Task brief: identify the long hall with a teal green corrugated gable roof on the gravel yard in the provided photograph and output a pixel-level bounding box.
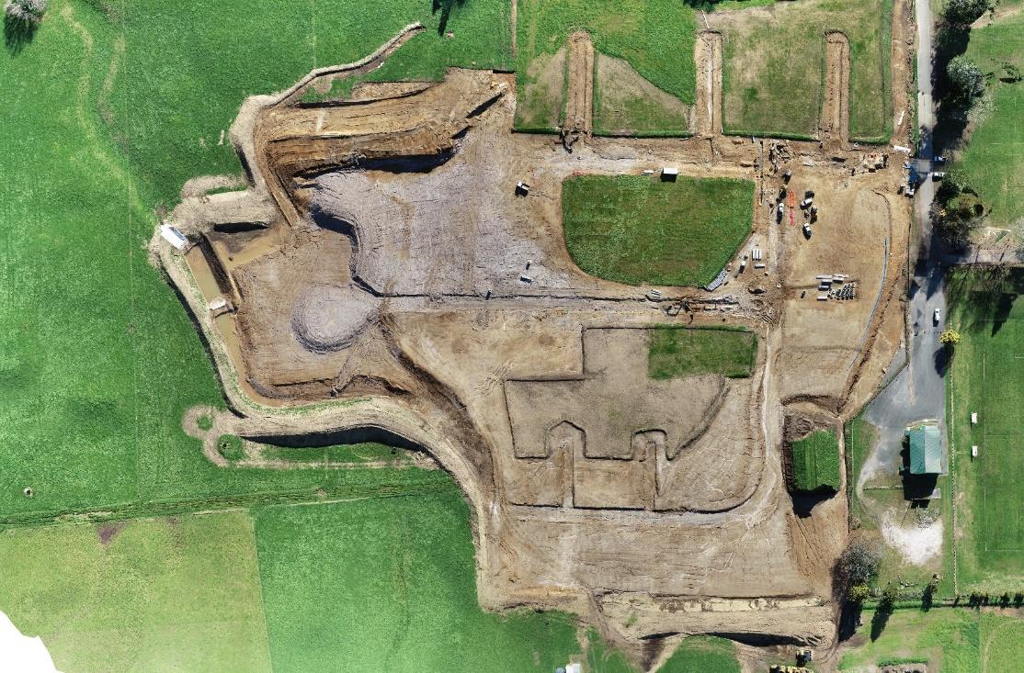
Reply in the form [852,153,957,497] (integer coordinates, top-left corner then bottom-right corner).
[910,427,942,474]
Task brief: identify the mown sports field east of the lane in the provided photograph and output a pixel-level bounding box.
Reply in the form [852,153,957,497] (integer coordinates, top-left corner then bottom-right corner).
[956,0,1024,589]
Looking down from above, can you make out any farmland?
Yes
